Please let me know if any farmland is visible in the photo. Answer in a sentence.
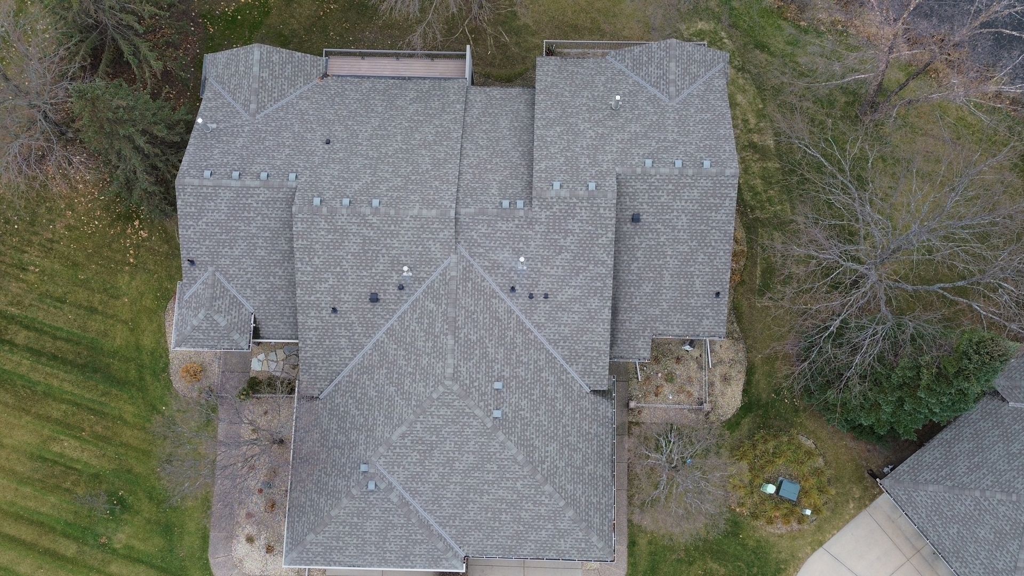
No, the scene doesn't show any farmland.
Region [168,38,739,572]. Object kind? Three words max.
house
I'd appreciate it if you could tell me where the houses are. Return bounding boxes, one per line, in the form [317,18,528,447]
[168,38,739,572]
[871,344,1024,576]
